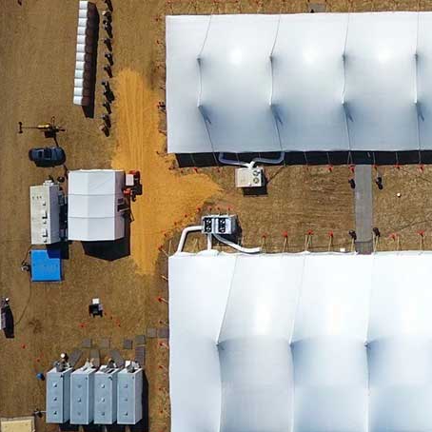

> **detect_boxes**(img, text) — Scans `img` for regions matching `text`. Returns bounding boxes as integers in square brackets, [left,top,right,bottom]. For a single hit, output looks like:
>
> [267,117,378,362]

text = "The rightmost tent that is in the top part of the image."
[157,1,432,172]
